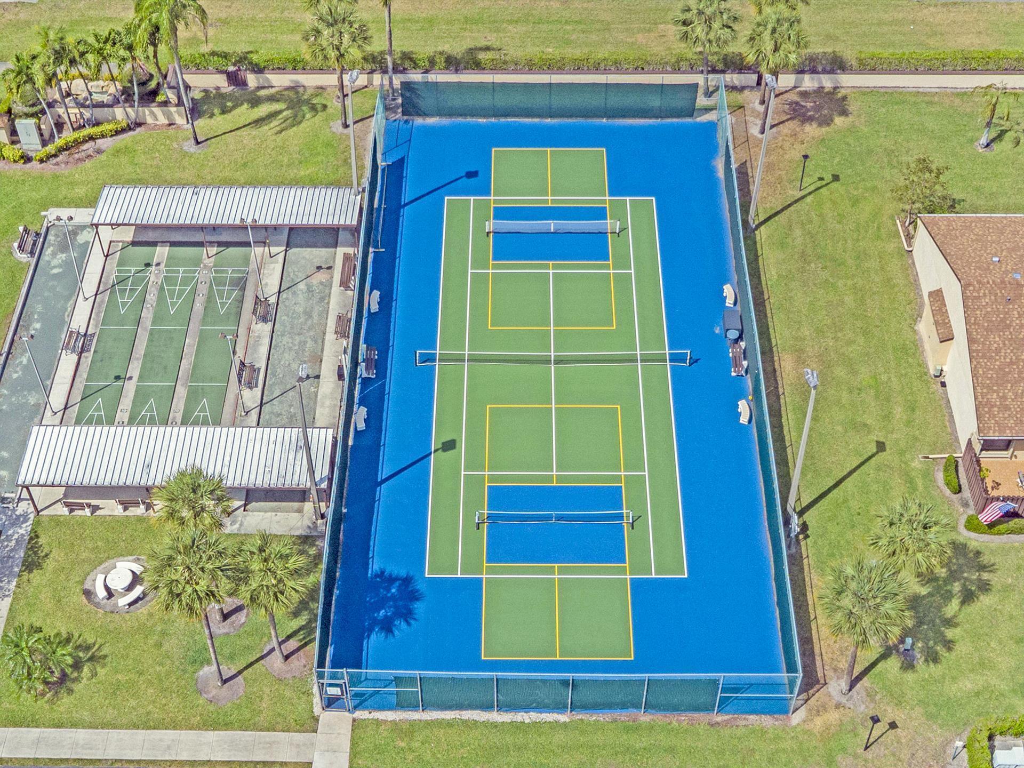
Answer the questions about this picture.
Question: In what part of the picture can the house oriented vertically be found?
right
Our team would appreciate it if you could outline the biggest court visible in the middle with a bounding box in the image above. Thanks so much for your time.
[329,119,790,715]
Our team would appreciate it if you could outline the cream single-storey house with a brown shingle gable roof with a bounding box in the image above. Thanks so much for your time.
[913,213,1024,460]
